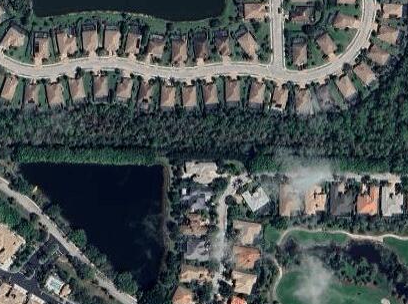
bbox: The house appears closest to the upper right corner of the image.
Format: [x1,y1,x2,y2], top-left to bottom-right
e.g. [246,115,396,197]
[383,3,408,18]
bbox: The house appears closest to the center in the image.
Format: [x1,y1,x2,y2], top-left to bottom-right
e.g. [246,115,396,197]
[186,160,216,185]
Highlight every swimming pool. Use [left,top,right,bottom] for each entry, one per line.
[45,276,65,296]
